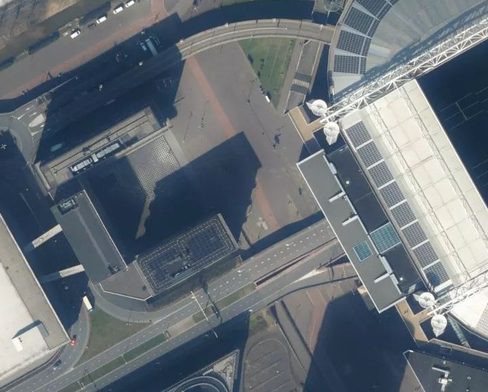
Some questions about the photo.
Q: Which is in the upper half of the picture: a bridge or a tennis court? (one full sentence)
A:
The feature located in the upper half of the picture is a bridge.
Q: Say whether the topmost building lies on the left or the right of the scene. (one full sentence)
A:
The topmost building sits on the left side.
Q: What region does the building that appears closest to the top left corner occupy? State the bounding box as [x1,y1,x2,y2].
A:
[36,106,169,196]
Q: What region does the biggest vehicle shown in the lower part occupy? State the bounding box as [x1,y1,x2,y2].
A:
[82,292,95,315]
